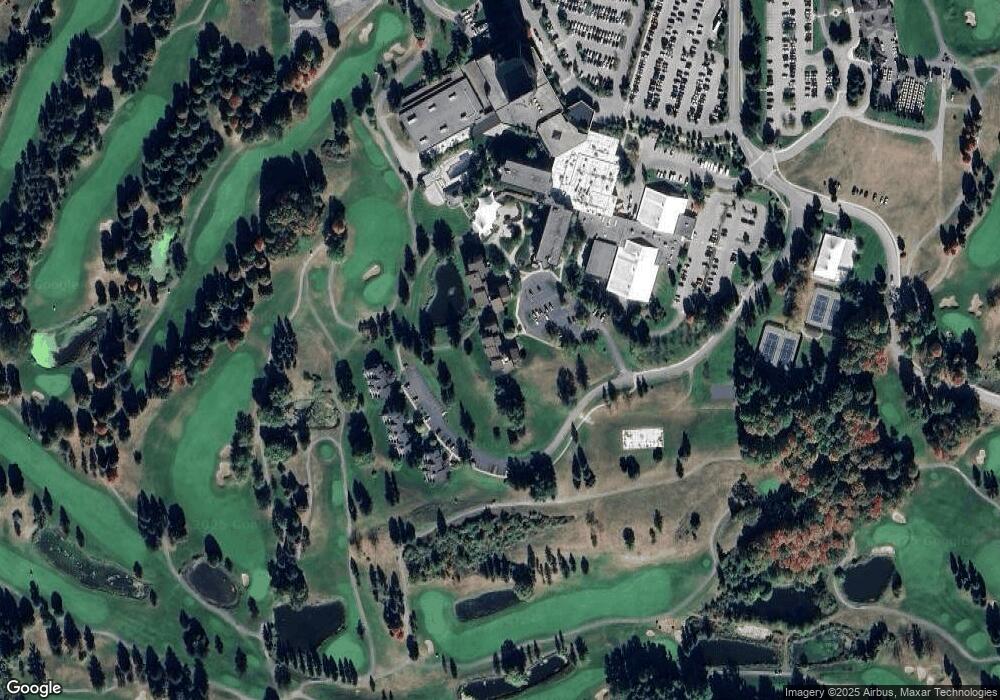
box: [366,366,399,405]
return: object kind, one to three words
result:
house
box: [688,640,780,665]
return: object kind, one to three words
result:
pond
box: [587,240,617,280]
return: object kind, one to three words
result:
building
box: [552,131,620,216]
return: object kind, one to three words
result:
building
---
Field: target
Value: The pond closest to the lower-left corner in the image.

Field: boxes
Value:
[38,528,149,597]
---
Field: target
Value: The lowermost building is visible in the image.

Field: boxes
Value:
[419,447,452,485]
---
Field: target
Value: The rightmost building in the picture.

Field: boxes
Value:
[858,0,894,34]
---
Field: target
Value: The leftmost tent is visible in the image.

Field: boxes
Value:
[473,192,501,241]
